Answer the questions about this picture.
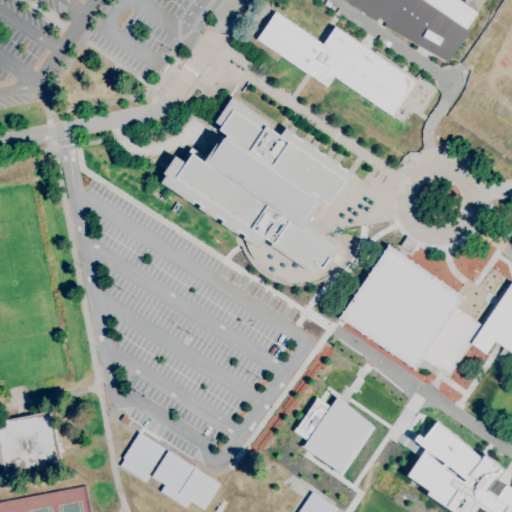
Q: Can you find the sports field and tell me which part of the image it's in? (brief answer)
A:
left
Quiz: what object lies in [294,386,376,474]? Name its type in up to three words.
building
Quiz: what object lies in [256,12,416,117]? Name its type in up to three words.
building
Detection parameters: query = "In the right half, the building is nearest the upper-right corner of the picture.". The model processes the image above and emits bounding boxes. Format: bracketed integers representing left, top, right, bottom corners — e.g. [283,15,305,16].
[354,0,479,62]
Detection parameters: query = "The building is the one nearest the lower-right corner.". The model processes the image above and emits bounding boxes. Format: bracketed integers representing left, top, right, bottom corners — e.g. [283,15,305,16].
[398,414,512,512]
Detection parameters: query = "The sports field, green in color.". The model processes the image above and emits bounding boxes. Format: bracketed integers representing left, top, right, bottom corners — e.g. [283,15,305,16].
[0,183,68,382]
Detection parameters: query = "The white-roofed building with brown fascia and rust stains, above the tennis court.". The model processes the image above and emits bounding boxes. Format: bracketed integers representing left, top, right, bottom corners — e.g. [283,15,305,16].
[0,414,64,474]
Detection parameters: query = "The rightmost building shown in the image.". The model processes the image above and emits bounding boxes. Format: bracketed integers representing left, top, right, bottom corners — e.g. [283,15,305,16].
[470,280,512,356]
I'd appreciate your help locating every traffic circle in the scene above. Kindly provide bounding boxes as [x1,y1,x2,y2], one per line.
[392,150,512,251]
